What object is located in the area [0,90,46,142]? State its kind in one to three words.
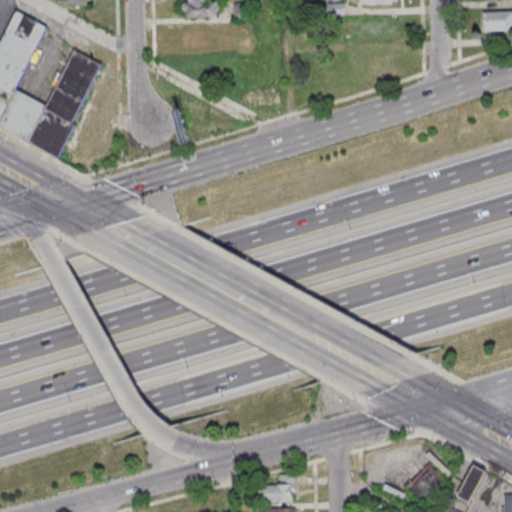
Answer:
building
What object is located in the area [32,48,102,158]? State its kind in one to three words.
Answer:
building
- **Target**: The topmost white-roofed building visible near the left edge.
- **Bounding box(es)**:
[0,10,48,94]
